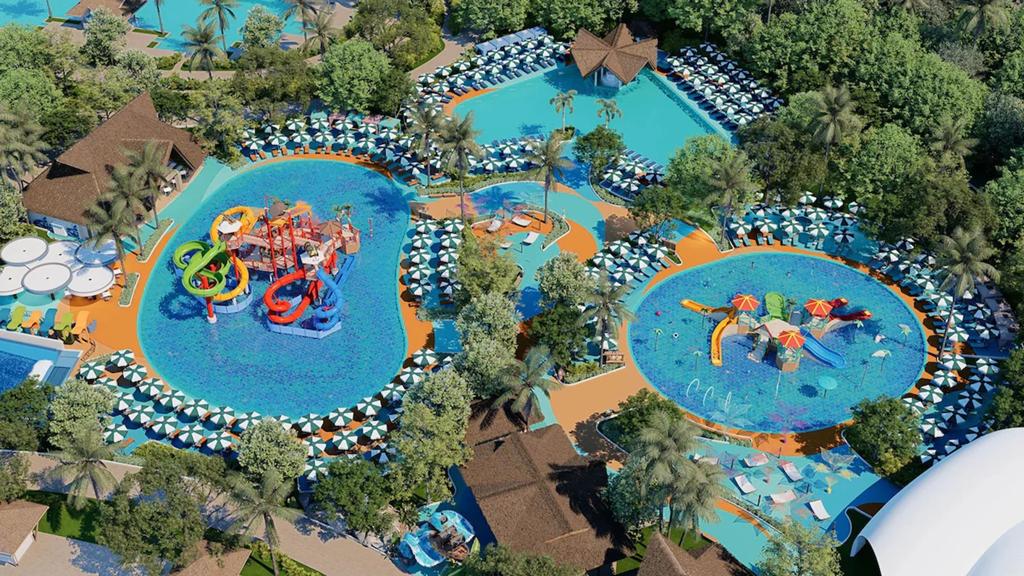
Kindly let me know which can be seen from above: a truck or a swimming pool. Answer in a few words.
swimming pool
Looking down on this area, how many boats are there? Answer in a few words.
1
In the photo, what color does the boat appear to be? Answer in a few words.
blue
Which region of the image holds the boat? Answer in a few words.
bottom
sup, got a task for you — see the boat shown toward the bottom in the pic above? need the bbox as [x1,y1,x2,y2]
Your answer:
[399,509,474,568]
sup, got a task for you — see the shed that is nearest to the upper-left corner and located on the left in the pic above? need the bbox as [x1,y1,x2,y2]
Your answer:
[66,0,150,37]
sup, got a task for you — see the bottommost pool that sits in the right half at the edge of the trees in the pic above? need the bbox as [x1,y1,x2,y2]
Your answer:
[632,253,924,430]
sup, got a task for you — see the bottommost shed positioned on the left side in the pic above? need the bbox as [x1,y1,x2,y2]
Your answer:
[170,540,254,576]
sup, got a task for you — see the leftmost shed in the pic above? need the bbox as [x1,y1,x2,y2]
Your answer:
[0,494,53,571]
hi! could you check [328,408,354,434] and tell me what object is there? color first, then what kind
white umbrella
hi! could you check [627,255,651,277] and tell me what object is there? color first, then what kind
white umbrella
